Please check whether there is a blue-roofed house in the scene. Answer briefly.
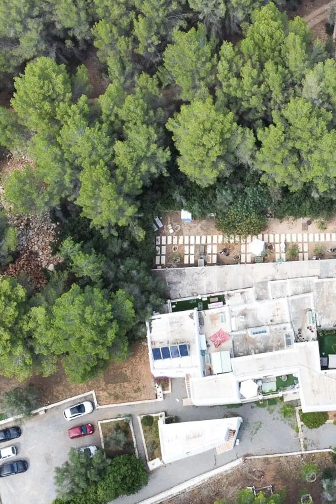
No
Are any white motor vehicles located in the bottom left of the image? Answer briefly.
Yes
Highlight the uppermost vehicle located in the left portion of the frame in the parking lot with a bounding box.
[62,400,95,421]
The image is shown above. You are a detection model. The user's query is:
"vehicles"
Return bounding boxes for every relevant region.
[0,425,22,442]
[68,423,95,439]
[62,400,95,421]
[0,445,18,461]
[0,460,29,477]
[73,442,99,457]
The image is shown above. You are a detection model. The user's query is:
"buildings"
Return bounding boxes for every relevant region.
[146,259,336,414]
[146,413,245,470]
